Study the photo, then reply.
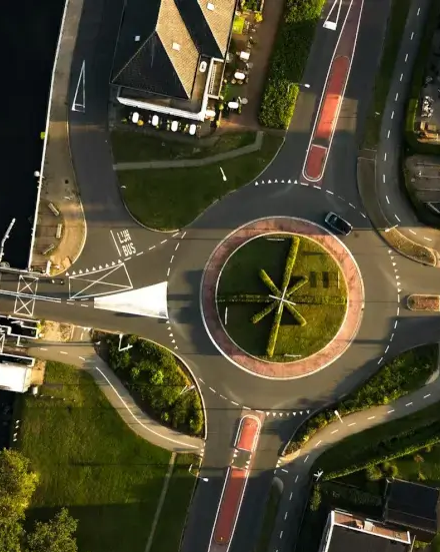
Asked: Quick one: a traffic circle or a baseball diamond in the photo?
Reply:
traffic circle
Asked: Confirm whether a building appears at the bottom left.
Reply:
No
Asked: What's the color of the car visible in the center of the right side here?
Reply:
black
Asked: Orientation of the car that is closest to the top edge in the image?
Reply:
diagonally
